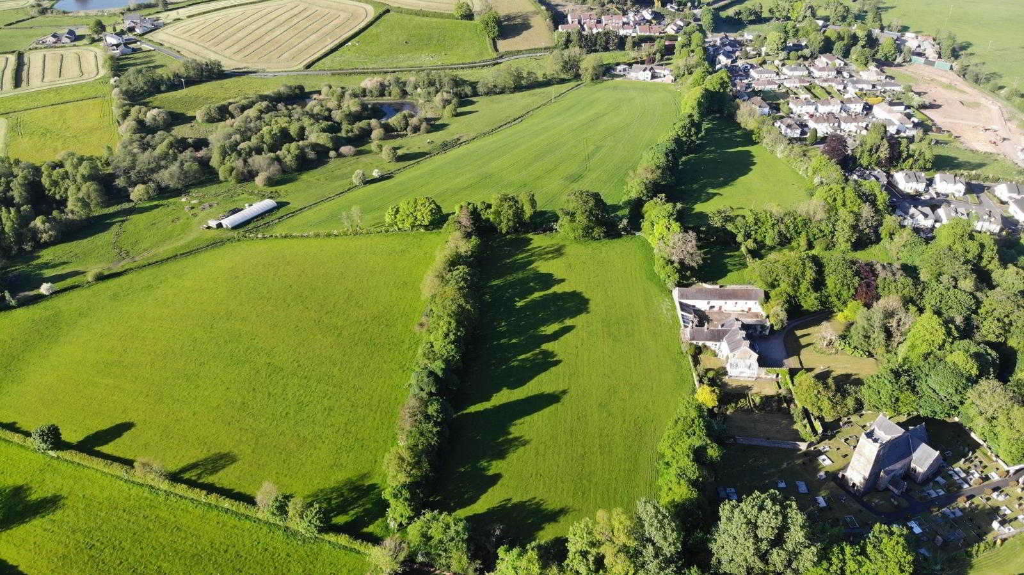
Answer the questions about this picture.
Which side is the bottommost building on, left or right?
right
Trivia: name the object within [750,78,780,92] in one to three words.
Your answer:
house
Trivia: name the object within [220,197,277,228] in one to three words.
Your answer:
greenhouse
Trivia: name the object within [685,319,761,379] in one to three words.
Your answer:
house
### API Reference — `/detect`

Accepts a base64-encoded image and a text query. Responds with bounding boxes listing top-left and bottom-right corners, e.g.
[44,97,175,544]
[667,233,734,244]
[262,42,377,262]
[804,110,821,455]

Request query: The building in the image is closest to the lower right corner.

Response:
[834,414,946,498]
